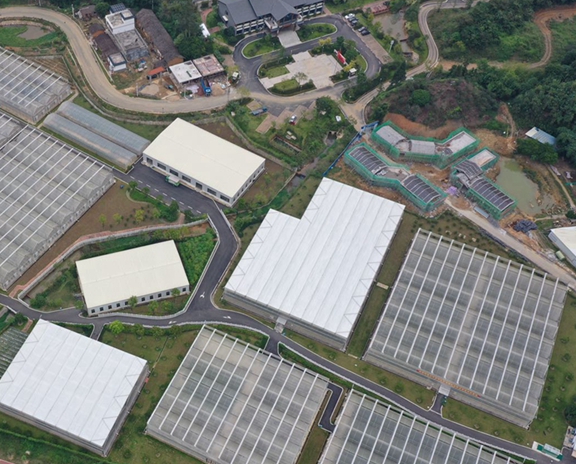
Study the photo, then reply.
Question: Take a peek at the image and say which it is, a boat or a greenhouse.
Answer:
greenhouse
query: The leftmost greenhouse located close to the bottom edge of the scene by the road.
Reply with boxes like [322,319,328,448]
[0,320,147,458]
